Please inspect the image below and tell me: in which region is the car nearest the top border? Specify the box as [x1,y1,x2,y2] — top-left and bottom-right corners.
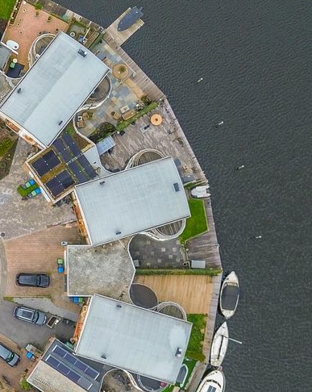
[16,273,49,288]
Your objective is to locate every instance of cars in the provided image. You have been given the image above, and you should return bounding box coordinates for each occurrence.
[0,342,19,366]
[14,306,48,325]
[16,273,49,288]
